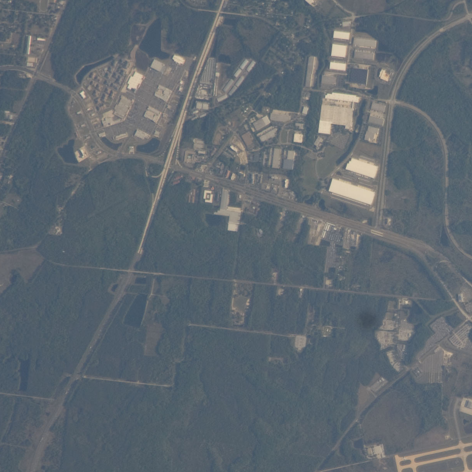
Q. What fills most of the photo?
trees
